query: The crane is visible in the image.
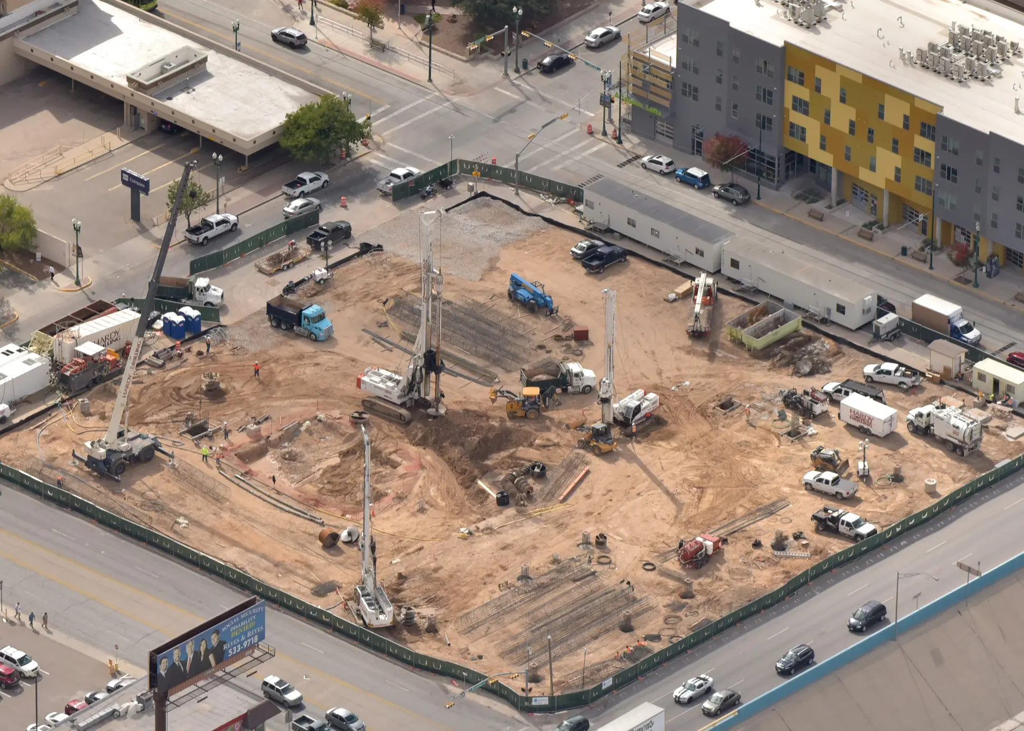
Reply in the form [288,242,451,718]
[72,156,202,484]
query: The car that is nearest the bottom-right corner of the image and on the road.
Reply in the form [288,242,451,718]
[847,599,889,632]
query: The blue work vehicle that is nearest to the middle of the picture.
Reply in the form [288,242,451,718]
[505,269,562,320]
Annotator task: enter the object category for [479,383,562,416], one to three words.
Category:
work vehicle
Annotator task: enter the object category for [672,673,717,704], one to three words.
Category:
car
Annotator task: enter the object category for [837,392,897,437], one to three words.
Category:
trailer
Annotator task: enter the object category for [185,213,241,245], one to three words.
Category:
truck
